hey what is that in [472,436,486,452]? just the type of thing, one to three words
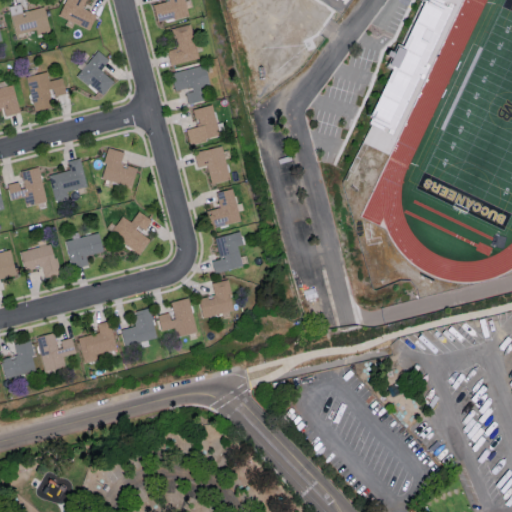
camper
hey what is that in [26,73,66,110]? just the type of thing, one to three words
house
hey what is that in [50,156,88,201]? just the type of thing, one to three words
house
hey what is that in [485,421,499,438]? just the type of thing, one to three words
camper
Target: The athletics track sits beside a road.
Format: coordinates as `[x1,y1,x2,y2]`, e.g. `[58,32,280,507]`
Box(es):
[360,0,512,281]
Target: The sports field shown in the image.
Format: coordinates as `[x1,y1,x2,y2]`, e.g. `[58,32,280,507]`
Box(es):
[403,0,512,259]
